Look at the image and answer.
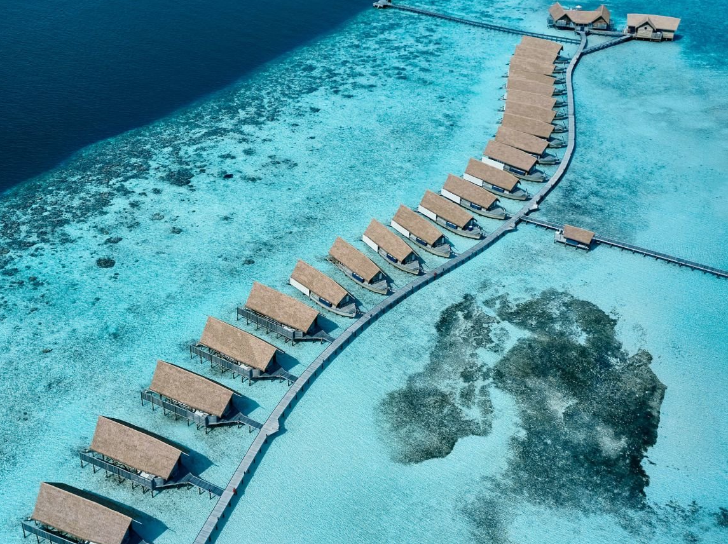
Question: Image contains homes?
Yes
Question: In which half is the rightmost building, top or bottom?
top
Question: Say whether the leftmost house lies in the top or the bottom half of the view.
bottom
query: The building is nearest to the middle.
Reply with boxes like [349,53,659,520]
[239,284,338,347]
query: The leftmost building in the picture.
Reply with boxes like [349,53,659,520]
[23,484,150,544]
